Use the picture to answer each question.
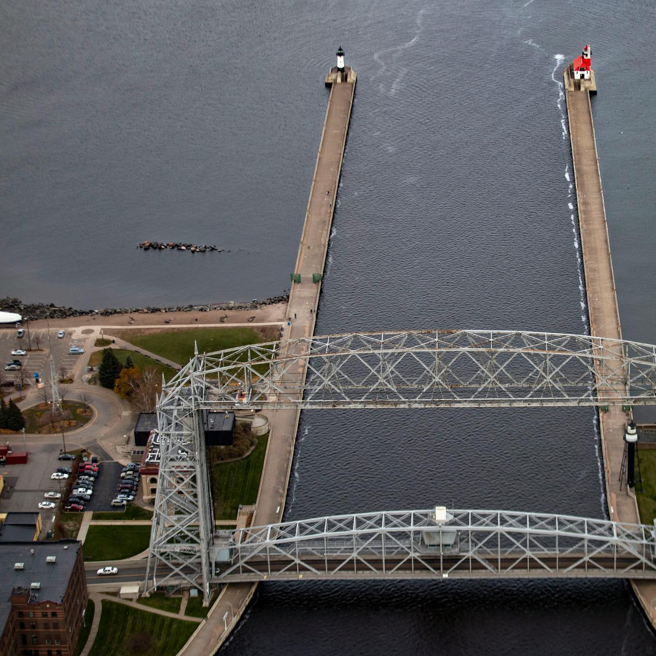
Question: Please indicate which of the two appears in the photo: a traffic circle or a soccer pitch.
traffic circle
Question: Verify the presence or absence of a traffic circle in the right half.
No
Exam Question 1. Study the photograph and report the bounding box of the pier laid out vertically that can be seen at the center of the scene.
[177,61,358,656]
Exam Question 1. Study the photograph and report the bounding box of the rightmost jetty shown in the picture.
[563,62,656,639]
